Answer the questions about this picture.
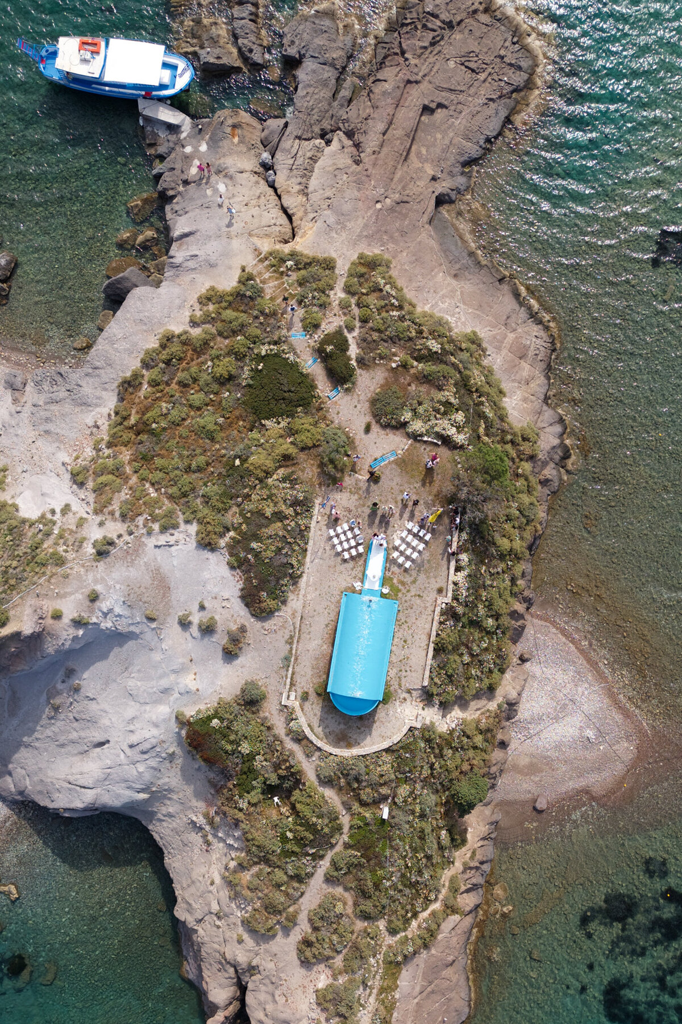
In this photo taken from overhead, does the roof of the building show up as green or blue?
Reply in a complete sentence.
In this view, the roof of the building is blue.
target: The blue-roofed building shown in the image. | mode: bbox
[327,590,399,718]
